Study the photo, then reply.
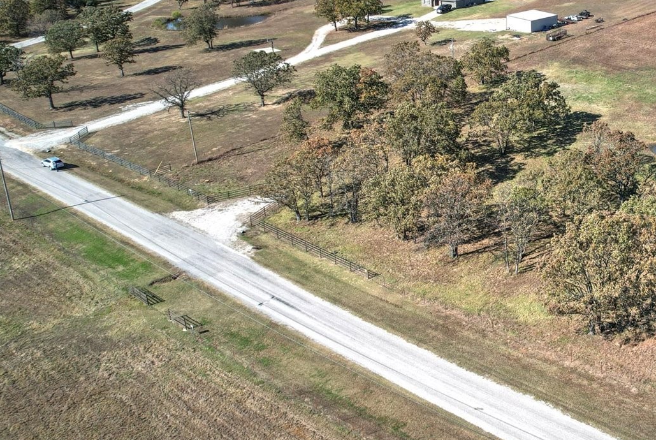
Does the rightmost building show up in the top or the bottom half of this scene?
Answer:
top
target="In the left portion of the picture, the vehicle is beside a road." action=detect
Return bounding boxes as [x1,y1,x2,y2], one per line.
[41,154,65,169]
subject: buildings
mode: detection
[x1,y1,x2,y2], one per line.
[422,0,482,8]
[505,11,558,33]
